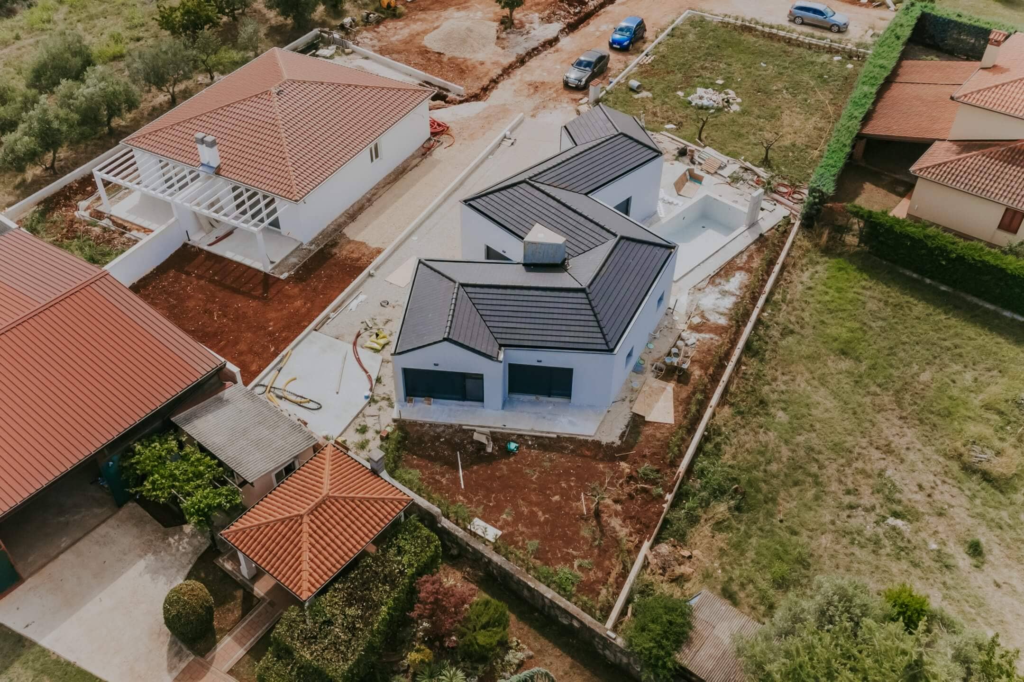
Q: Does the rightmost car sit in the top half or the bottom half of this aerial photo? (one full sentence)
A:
You can find the rightmost car in the top half.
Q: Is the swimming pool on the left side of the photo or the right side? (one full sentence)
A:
The swimming pool appears in the right half of the scene.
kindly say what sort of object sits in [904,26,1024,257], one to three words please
house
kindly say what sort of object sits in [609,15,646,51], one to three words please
car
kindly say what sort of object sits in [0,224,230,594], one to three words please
shed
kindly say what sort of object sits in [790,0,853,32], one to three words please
car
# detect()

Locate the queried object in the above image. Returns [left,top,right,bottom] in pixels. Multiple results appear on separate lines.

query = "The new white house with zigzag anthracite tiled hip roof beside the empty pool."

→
[389,103,681,410]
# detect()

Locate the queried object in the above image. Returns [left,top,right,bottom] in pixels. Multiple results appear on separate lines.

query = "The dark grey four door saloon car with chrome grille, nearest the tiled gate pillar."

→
[565,49,610,88]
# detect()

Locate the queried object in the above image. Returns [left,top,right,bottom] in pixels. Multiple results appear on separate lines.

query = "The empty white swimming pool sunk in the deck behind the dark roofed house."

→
[646,188,756,281]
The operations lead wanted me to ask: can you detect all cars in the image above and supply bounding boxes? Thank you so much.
[790,0,853,32]
[609,15,646,51]
[565,49,610,88]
